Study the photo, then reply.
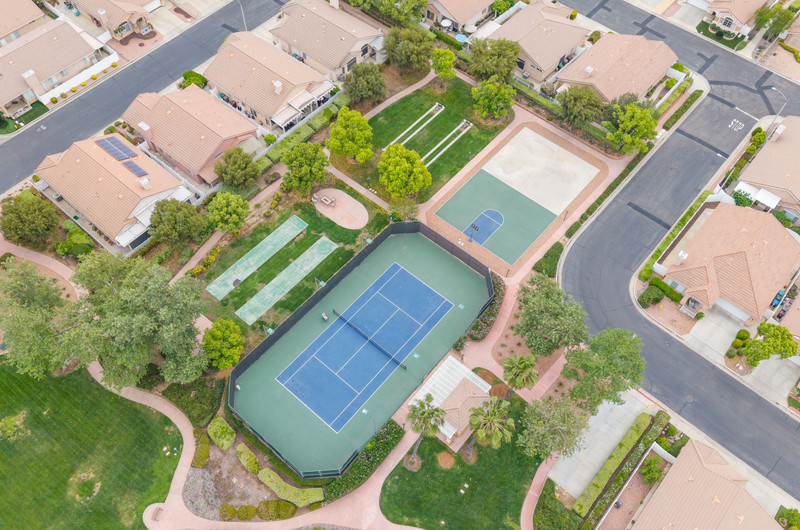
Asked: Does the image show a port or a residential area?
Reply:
residential area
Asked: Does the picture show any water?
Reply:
No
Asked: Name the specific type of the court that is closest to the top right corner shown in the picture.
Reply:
basketball court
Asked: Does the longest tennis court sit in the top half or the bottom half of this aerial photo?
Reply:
bottom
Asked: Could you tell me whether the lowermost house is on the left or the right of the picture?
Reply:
right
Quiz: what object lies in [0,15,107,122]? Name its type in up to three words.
house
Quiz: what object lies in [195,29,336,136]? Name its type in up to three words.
house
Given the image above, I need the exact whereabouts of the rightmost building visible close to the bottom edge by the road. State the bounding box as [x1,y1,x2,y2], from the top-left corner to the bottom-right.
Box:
[635,436,784,530]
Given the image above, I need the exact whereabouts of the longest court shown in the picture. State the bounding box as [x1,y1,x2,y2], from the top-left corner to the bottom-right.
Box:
[232,231,495,478]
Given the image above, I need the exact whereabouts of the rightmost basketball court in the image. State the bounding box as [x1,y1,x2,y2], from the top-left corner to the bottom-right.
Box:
[435,129,598,265]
